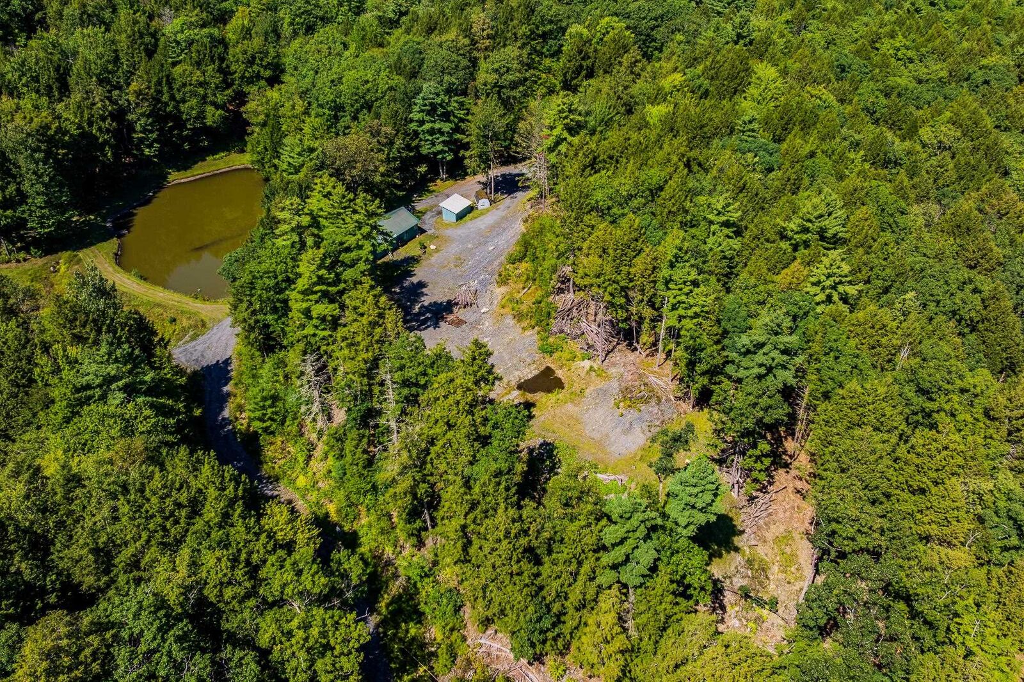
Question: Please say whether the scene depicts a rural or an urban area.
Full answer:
This place is rural.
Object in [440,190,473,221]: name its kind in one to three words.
shed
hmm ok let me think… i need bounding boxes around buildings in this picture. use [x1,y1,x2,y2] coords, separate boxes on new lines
[372,201,422,253]
[474,189,490,209]
[440,190,473,221]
